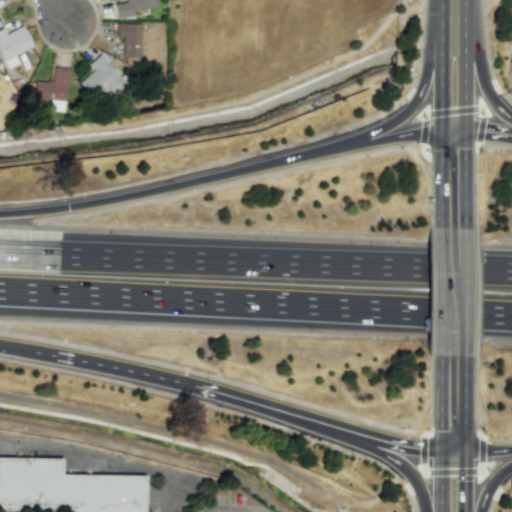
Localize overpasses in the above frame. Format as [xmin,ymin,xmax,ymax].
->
[430,226,482,358]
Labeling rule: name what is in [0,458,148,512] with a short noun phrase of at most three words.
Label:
building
